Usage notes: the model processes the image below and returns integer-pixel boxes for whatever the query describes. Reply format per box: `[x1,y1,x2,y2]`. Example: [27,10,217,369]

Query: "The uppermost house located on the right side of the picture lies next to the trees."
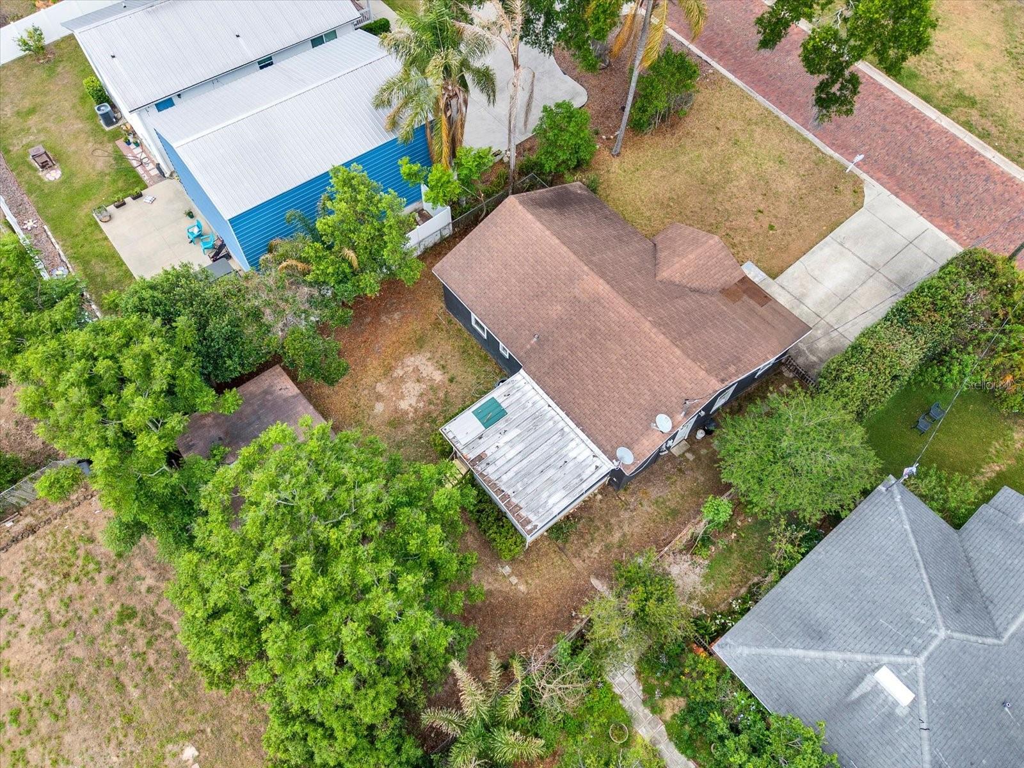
[431,177,810,489]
